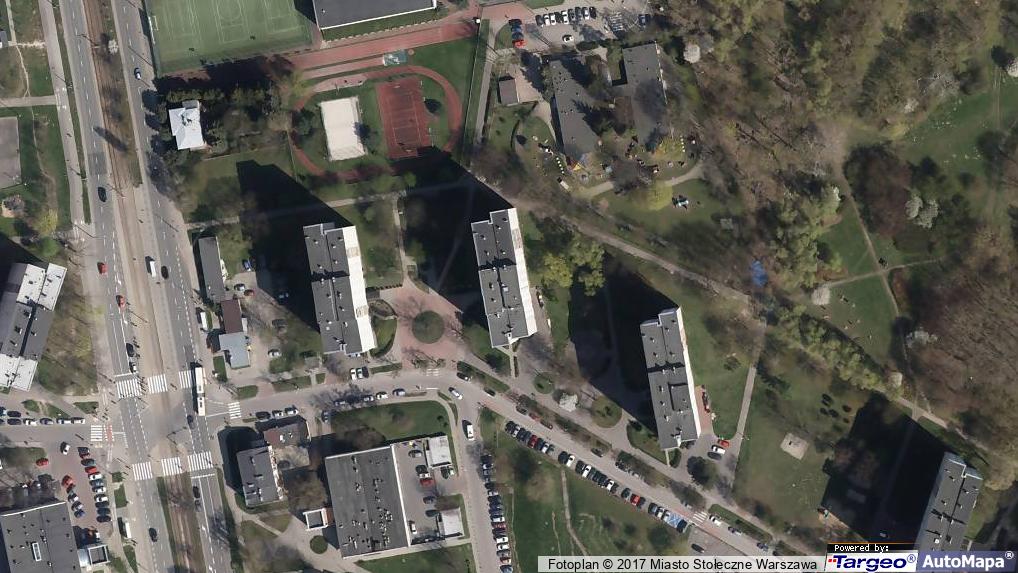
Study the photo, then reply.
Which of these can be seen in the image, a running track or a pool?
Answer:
running track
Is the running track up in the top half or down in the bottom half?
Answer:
top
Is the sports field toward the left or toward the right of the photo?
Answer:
left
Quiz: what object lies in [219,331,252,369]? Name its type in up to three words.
building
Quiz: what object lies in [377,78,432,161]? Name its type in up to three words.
sports court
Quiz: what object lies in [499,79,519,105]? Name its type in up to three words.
shed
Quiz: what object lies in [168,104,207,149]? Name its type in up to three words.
house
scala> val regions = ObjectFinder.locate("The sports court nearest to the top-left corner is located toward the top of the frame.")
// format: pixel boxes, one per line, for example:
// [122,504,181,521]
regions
[320,96,368,160]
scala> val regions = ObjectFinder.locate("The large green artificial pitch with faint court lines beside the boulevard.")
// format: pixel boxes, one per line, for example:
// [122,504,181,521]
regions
[147,0,314,84]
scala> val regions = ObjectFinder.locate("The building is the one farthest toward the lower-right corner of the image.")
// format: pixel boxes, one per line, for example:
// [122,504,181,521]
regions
[908,453,982,573]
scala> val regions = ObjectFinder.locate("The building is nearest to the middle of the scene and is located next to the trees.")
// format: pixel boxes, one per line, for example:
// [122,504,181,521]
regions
[471,208,536,348]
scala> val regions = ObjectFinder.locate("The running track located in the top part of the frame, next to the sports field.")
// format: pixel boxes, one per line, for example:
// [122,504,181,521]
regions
[262,20,480,177]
